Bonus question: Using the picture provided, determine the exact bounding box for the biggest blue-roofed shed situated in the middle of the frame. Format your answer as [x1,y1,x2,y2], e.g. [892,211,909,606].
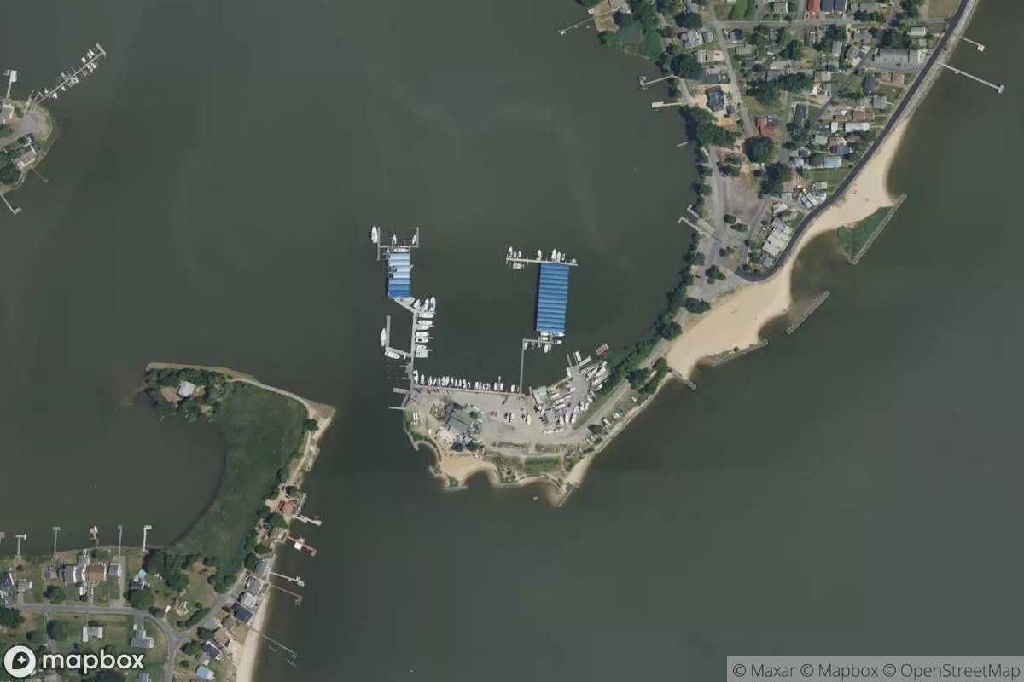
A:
[537,263,571,332]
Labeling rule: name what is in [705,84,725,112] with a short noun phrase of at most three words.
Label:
house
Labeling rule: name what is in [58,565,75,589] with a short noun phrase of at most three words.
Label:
house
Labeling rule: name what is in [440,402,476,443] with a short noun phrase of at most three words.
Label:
building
